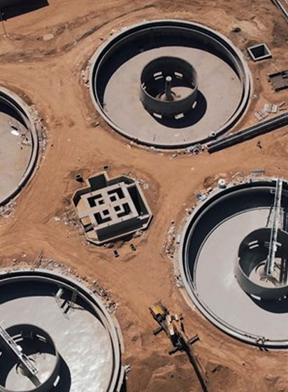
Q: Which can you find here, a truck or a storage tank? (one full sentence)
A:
I can see a storage tank in this picture.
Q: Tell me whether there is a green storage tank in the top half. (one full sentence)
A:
No, there's no green storage tank to be seen in the top half.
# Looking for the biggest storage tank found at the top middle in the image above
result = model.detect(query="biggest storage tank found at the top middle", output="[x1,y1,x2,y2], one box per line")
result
[87,19,253,150]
